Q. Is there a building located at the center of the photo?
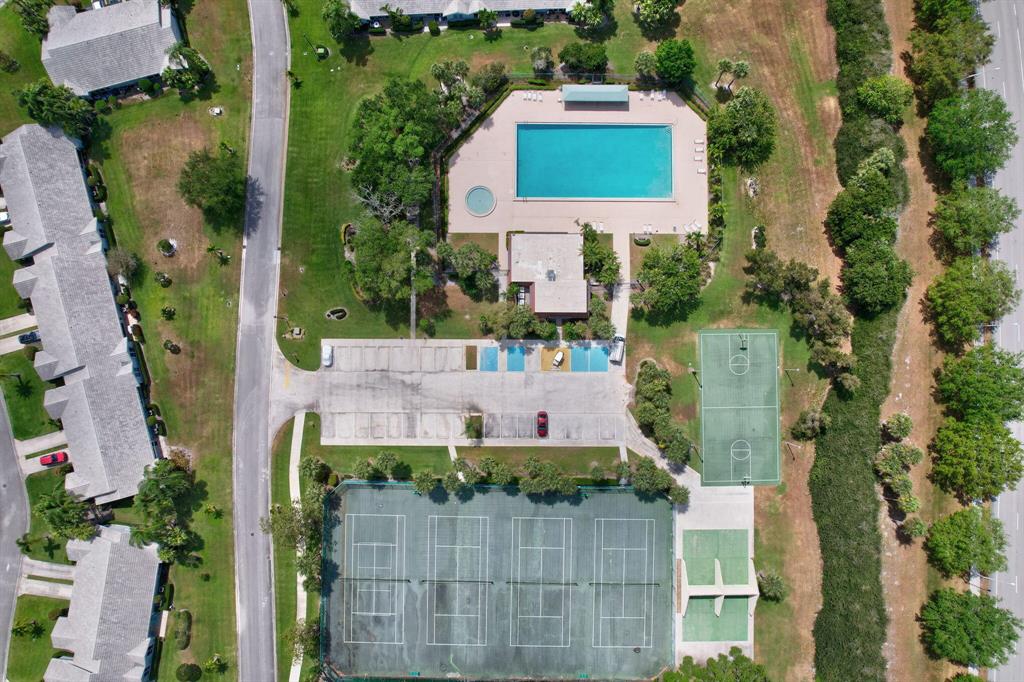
Yes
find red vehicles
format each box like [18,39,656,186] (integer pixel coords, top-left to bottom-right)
[537,411,549,438]
[40,453,66,467]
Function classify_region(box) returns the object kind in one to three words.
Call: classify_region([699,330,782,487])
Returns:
basketball court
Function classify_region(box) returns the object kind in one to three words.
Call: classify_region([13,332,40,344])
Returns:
vehicle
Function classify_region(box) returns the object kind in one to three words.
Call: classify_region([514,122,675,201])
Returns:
swimming pool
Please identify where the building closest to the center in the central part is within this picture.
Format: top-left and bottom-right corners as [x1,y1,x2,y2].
[507,234,588,318]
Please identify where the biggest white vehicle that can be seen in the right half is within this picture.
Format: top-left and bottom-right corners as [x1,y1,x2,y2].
[610,337,625,365]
